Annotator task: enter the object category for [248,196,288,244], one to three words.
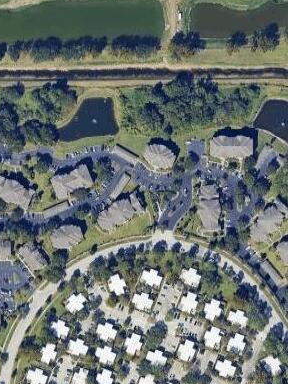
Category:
building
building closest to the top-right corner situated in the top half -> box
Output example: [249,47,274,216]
[211,135,254,158]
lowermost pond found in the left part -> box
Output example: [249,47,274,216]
[57,97,119,143]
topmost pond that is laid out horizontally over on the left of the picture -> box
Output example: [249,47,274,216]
[0,0,166,42]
